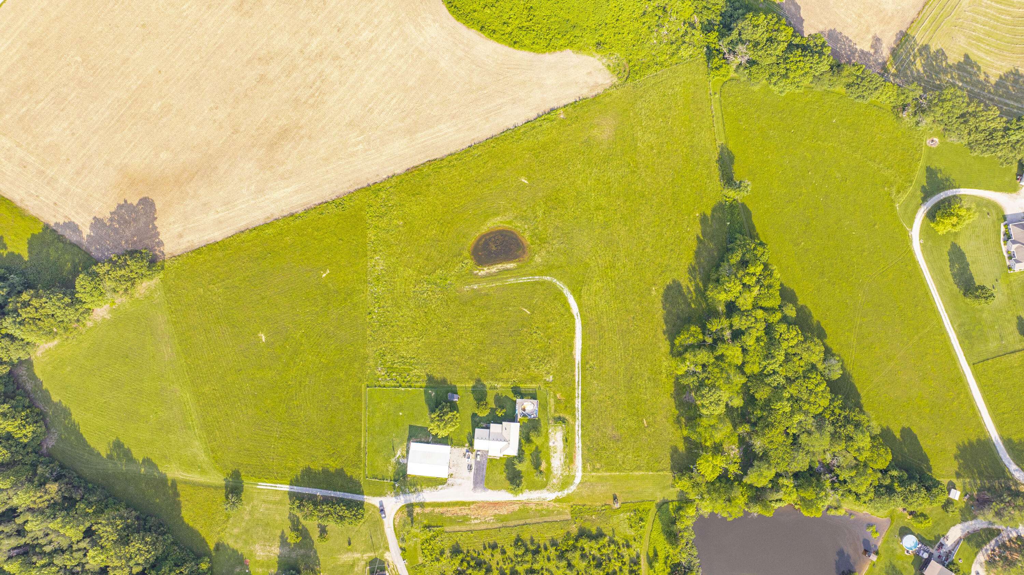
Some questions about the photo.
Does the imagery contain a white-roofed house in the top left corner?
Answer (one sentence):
No, no white-roofed house can be made out in the top left corner.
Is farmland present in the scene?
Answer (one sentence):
Yes, there's farmland in this view.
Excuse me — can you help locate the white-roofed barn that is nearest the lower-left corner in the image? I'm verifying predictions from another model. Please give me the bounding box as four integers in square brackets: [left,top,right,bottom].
[407,440,451,478]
